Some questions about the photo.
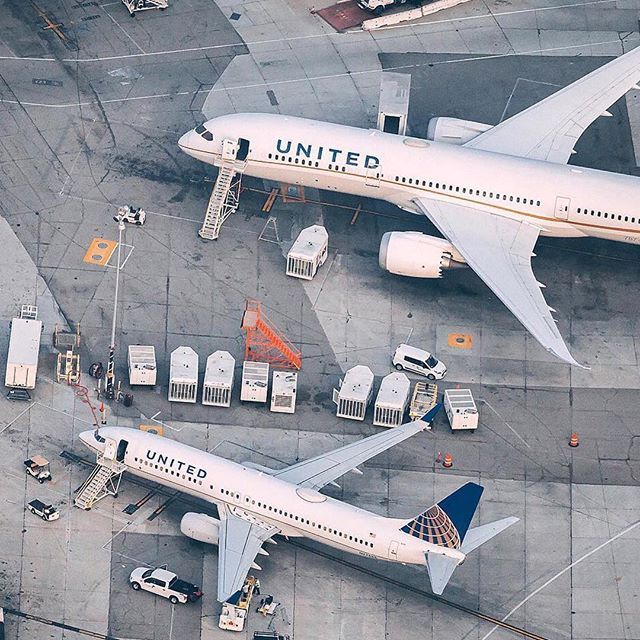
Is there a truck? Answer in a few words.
Yes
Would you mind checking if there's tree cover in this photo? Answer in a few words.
No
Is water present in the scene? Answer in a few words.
No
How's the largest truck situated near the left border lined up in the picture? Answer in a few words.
up and down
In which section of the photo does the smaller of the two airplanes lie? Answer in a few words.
bottom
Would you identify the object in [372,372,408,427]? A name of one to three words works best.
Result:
trailer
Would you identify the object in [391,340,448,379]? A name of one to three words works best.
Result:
van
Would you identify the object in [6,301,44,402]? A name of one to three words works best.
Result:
truck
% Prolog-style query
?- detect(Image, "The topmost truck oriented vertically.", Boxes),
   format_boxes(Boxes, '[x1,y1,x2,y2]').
[381,74,411,134]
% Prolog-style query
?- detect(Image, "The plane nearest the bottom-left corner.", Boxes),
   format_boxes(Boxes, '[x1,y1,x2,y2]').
[81,404,524,607]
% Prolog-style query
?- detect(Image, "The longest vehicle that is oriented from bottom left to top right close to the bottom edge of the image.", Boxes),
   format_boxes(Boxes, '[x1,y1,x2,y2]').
[219,569,262,628]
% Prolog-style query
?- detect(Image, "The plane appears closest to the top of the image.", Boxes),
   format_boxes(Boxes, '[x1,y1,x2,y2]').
[179,56,640,369]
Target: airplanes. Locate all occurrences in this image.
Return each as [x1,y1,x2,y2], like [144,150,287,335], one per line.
[179,56,640,369]
[81,404,524,607]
